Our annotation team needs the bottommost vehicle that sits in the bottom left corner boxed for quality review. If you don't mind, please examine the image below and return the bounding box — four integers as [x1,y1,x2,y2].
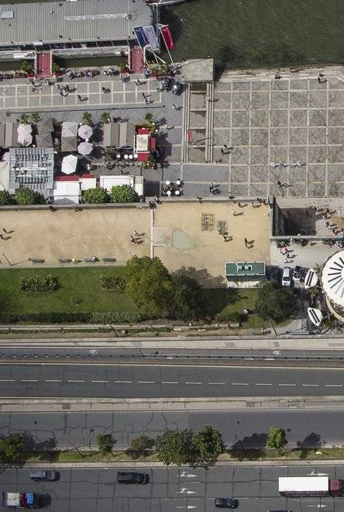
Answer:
[0,493,34,507]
